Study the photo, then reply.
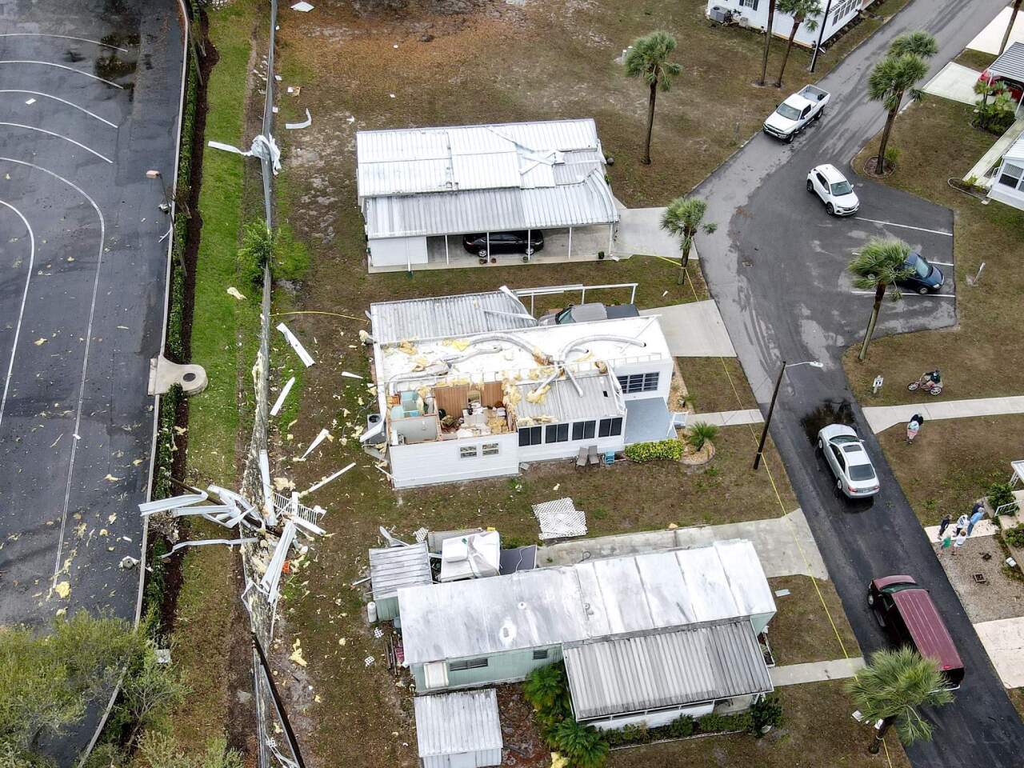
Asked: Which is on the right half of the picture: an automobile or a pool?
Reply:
automobile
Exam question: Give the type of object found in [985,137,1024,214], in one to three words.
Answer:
house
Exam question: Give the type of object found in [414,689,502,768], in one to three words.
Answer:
shed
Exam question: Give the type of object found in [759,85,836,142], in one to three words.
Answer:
truck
